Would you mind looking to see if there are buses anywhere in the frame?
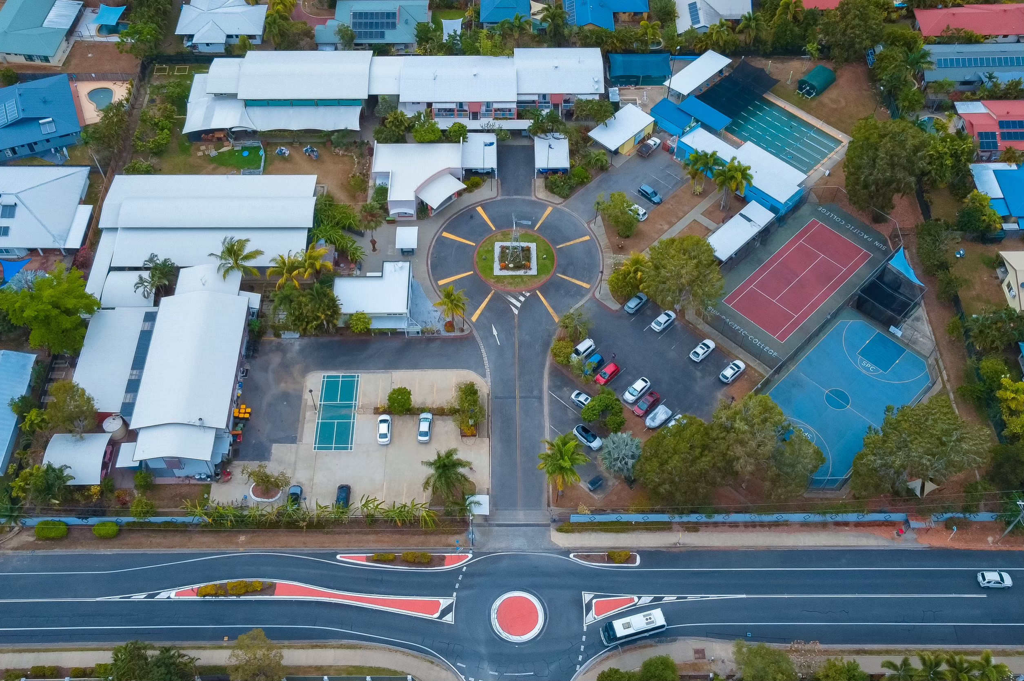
Yes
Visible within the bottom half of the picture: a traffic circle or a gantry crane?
traffic circle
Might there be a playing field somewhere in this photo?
Yes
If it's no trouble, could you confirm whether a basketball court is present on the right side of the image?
Yes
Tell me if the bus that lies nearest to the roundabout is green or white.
white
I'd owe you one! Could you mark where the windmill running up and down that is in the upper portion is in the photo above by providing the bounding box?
[508,217,532,262]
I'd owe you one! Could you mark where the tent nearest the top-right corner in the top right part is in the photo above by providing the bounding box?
[798,67,838,97]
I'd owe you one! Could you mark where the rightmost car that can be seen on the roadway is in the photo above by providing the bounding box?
[976,570,1014,588]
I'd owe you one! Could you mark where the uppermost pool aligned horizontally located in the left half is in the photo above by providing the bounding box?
[96,21,127,36]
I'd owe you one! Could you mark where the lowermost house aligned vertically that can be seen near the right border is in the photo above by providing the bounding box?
[993,251,1024,321]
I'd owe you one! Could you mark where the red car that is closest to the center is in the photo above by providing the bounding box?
[595,360,622,383]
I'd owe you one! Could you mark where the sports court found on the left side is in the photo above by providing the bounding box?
[313,373,360,451]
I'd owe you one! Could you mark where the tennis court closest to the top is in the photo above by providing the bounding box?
[687,203,893,370]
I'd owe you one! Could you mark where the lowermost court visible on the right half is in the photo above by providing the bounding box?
[738,313,941,497]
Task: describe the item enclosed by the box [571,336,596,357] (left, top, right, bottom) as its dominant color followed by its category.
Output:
white car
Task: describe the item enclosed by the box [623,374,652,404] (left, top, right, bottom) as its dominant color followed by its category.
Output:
white car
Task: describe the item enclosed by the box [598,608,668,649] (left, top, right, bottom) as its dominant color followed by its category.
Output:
white bus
